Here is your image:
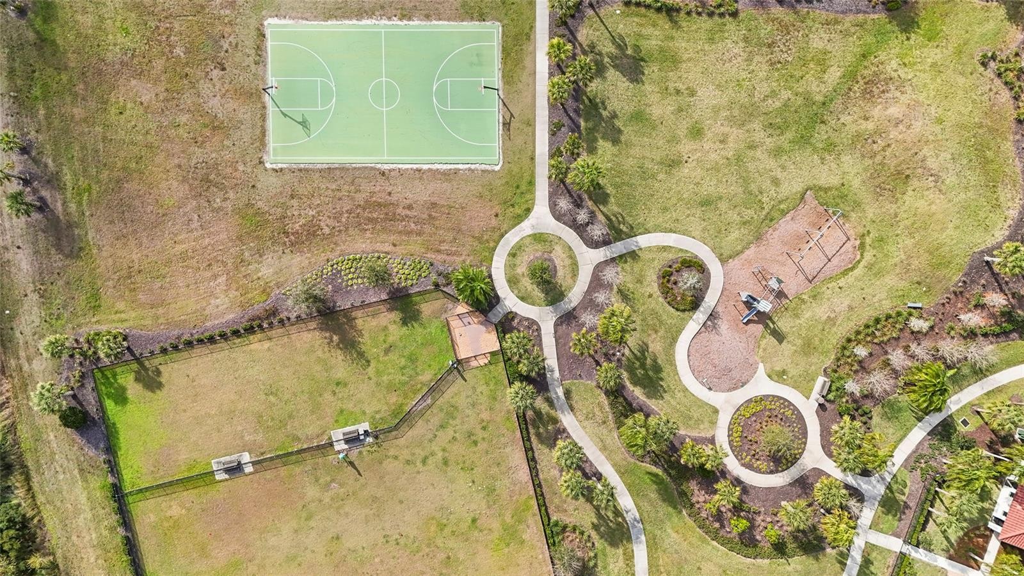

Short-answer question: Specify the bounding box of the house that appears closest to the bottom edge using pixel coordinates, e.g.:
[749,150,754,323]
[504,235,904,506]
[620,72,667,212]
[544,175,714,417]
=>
[988,467,1024,548]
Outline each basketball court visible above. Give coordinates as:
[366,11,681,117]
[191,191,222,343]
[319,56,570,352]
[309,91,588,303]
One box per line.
[264,20,503,169]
